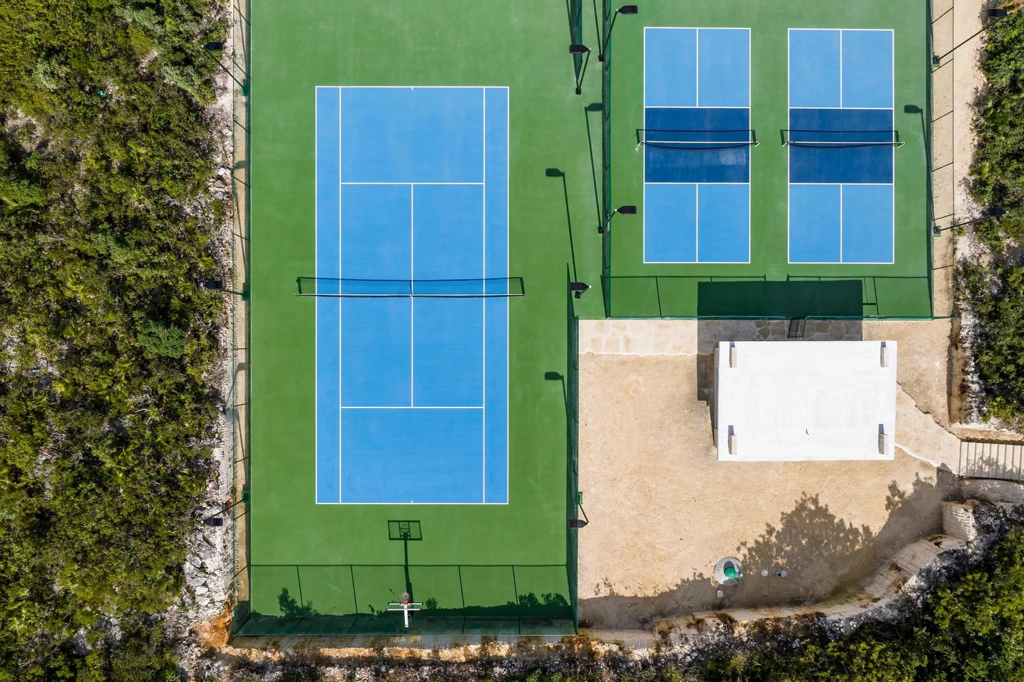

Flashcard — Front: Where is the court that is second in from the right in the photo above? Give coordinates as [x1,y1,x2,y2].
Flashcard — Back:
[644,27,751,263]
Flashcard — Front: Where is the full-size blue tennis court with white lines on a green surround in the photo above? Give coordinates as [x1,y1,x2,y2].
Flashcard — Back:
[251,0,606,627]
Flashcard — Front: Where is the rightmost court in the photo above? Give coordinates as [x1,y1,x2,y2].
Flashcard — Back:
[788,28,894,264]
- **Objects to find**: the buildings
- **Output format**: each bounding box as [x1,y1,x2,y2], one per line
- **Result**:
[716,341,897,461]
